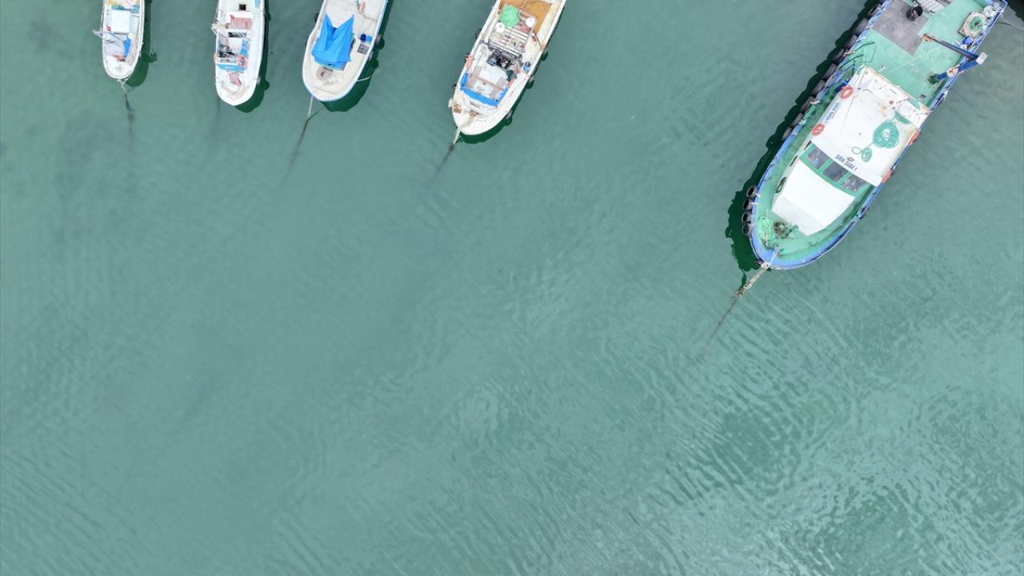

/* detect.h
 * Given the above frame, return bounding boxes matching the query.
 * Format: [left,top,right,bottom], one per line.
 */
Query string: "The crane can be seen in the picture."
[914,32,987,84]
